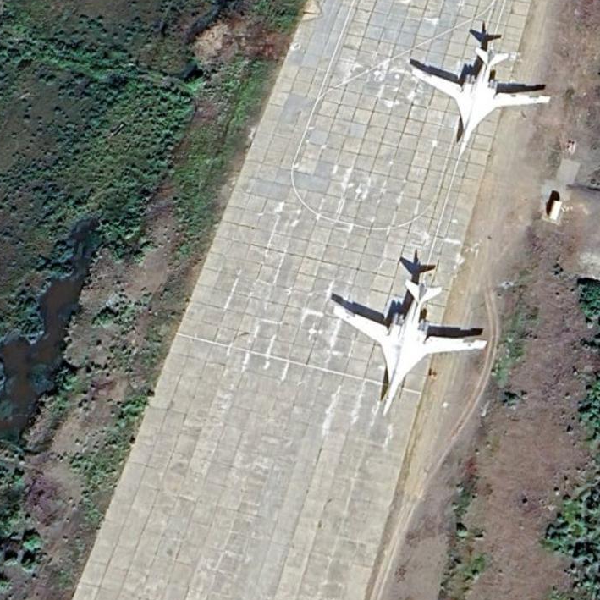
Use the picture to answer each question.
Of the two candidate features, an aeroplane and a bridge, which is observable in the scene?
aeroplane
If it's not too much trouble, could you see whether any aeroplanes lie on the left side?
No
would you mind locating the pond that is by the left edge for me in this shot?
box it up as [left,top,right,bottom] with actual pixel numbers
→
[0,216,99,442]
